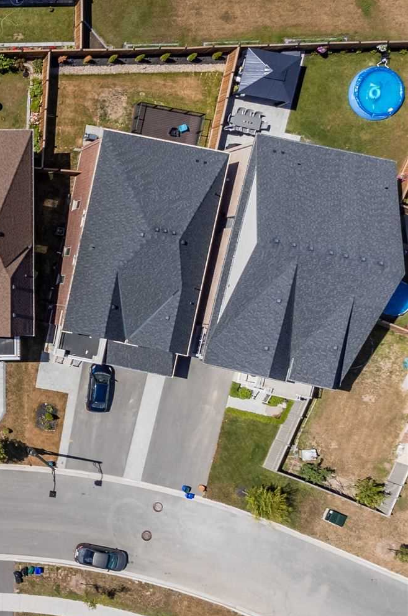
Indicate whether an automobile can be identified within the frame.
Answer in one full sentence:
Yes, this view includes an automobile.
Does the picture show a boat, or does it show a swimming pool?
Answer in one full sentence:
Of the two, only a swimming pool appears.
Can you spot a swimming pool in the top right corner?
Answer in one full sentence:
Yes, a swimming pool appears in the top right corner.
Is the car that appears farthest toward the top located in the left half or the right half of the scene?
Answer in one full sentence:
You can find the car that appears farthest toward the top on the left side of the picture.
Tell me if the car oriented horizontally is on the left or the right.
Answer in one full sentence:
The car oriented horizontally sits on the left side.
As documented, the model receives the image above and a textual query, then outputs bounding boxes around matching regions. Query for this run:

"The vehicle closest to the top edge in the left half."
[86,362,114,413]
